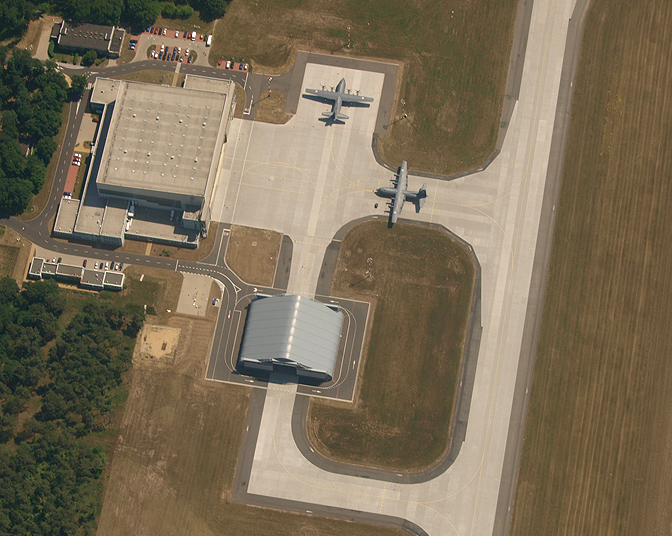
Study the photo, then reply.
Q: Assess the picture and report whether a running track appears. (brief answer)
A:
No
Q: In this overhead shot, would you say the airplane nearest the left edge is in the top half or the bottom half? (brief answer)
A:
top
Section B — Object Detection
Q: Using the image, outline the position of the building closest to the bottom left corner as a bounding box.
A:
[29,257,126,292]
